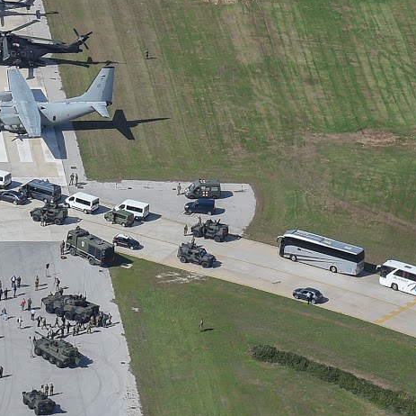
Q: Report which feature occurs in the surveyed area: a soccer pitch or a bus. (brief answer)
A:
bus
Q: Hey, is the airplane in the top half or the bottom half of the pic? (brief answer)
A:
top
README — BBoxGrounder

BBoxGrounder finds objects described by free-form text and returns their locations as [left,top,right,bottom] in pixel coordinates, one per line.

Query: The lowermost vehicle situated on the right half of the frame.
[293,287,325,303]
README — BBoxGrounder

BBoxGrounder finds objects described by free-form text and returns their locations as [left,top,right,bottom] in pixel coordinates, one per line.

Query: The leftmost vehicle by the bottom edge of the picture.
[24,386,58,413]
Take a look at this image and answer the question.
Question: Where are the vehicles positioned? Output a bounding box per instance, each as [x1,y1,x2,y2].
[64,191,100,213]
[31,200,68,224]
[273,227,360,273]
[104,209,136,226]
[111,233,143,249]
[184,198,219,215]
[45,289,102,321]
[179,243,217,267]
[0,169,12,189]
[183,176,222,198]
[66,228,113,264]
[24,386,58,413]
[34,327,85,366]
[115,197,150,219]
[192,214,228,241]
[293,287,325,303]
[0,190,27,204]
[16,175,62,202]
[375,256,416,294]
